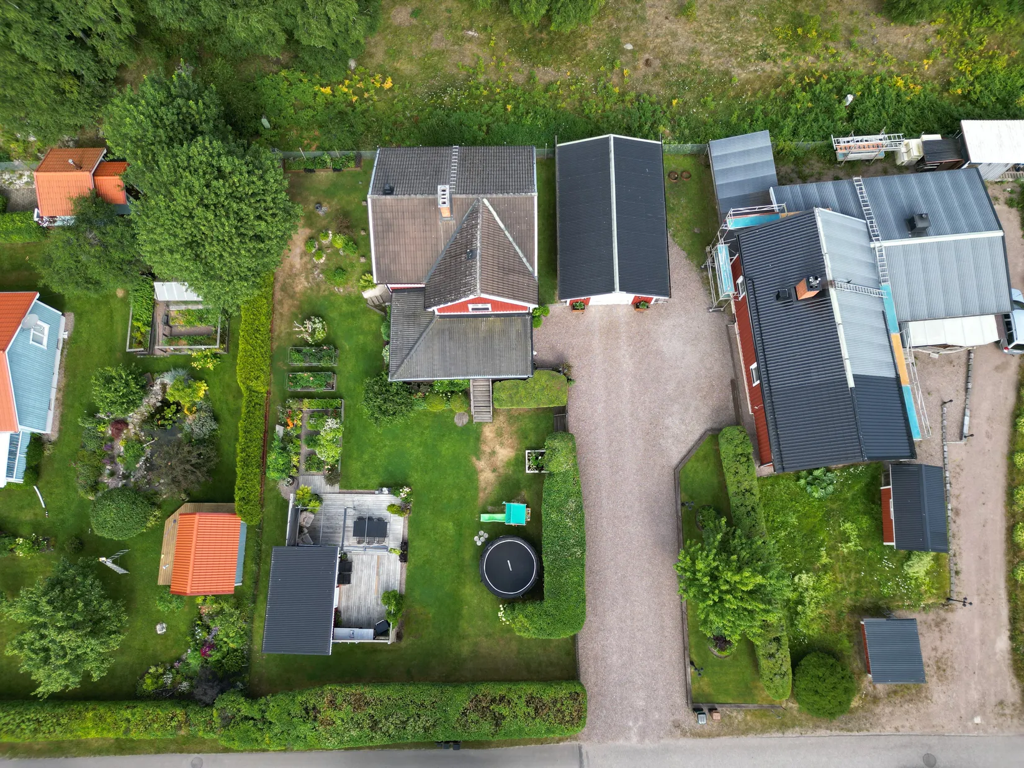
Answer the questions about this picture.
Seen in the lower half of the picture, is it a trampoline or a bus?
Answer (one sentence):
You can see a trampoline in the lower half of the picture.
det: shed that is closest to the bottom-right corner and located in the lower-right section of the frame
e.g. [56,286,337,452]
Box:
[851,618,926,683]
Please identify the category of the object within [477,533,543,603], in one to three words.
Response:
trampoline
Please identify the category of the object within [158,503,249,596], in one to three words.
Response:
building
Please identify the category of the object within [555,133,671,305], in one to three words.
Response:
building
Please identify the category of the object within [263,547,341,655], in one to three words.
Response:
shed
